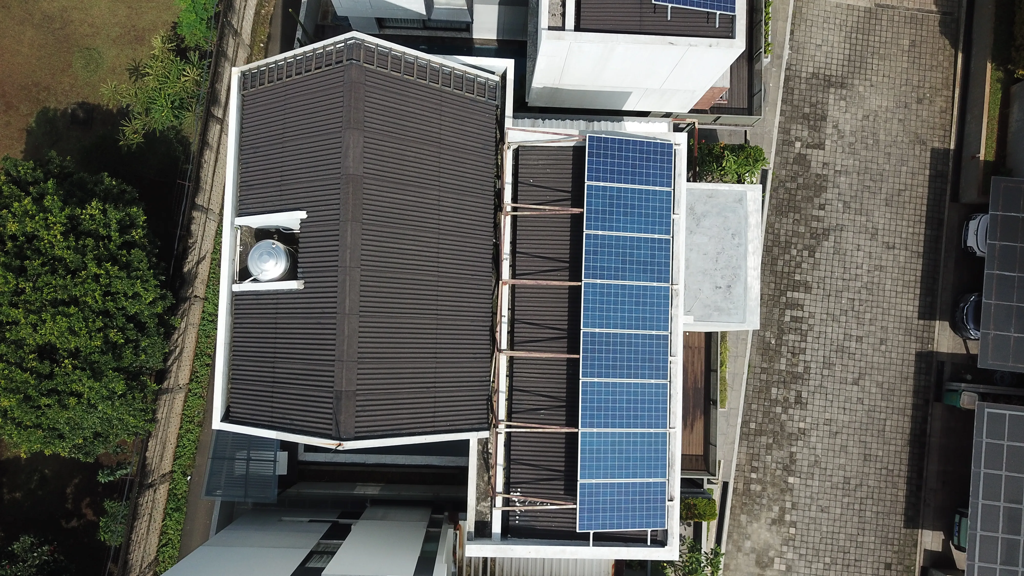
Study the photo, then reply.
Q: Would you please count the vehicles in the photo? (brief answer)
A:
three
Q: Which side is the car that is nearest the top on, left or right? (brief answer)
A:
right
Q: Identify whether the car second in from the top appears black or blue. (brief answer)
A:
black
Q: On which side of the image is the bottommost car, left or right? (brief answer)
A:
right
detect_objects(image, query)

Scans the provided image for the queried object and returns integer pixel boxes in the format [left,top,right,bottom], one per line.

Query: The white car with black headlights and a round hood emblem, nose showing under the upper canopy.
[959,214,988,260]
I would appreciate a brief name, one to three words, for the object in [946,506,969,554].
car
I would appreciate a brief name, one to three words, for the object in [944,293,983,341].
car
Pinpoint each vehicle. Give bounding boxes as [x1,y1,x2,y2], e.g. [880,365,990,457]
[959,214,988,260]
[946,506,969,554]
[944,293,983,341]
